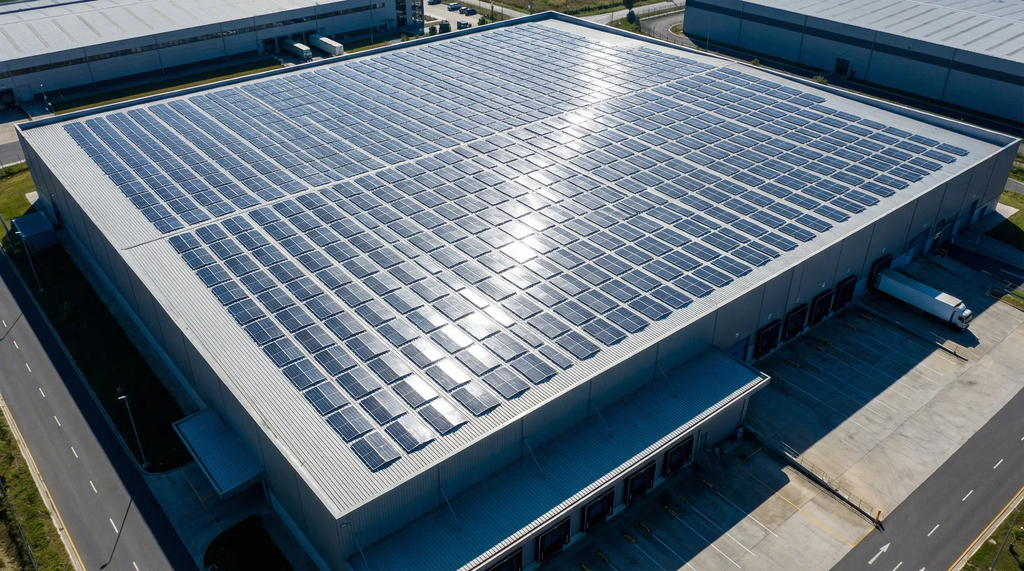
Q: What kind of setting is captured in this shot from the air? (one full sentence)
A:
The area seen from above is an industrial area.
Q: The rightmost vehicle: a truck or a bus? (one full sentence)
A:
I'd identify the rightmost vehicle as a truck.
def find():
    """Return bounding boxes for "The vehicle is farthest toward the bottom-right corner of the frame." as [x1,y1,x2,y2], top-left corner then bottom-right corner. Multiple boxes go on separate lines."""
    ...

[871,266,974,335]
